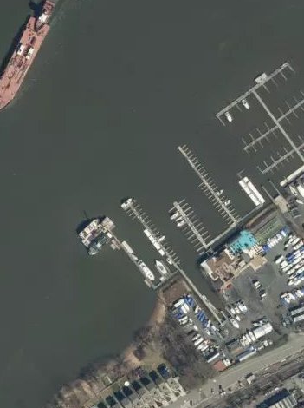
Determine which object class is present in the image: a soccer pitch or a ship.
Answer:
ship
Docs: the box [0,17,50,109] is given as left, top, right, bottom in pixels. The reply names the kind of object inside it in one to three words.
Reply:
ship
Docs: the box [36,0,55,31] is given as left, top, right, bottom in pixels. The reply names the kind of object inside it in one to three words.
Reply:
boat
